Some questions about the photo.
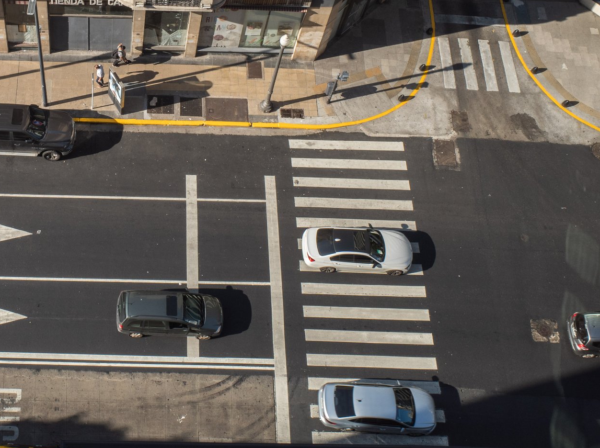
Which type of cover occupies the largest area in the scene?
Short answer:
paved ground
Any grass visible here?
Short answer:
No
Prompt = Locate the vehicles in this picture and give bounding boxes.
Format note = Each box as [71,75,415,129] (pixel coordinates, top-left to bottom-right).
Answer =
[316,378,439,436]
[561,311,600,359]
[116,287,225,339]
[0,99,78,158]
[299,222,414,275]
